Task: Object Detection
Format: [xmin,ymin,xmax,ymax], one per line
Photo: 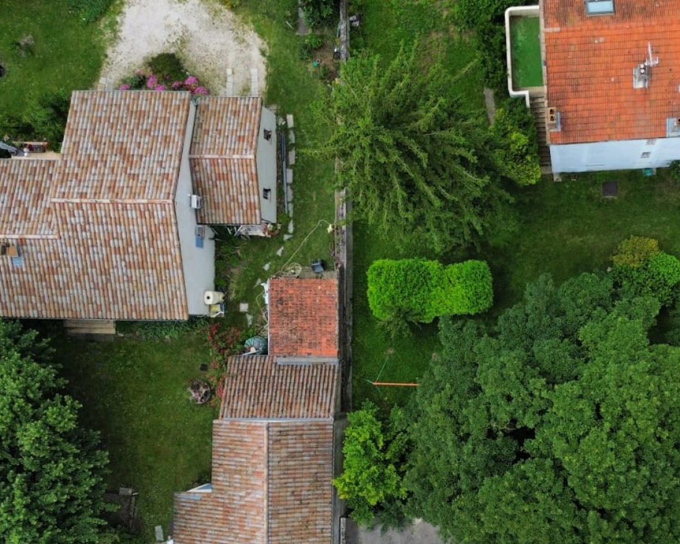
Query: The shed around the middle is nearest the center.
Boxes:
[267,277,342,358]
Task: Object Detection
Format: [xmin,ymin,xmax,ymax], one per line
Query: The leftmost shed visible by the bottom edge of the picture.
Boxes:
[174,416,341,544]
